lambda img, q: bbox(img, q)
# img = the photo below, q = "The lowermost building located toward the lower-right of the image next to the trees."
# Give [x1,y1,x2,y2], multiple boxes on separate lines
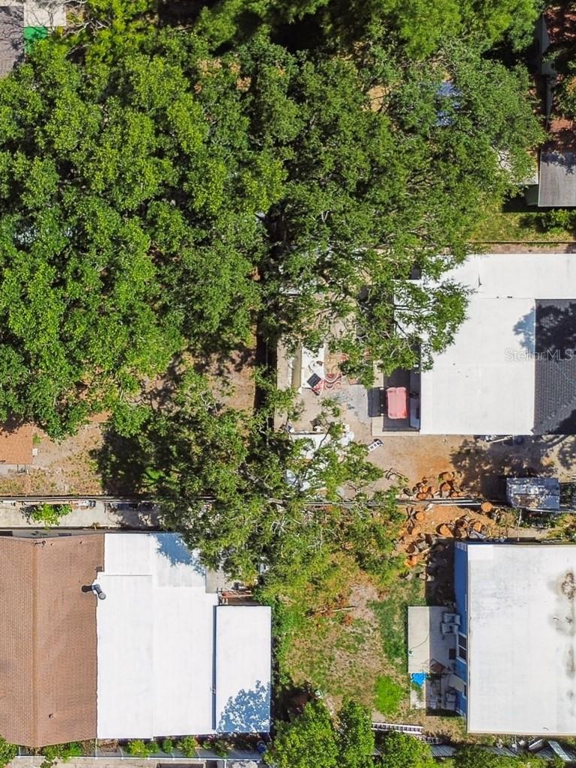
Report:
[443,537,576,738]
